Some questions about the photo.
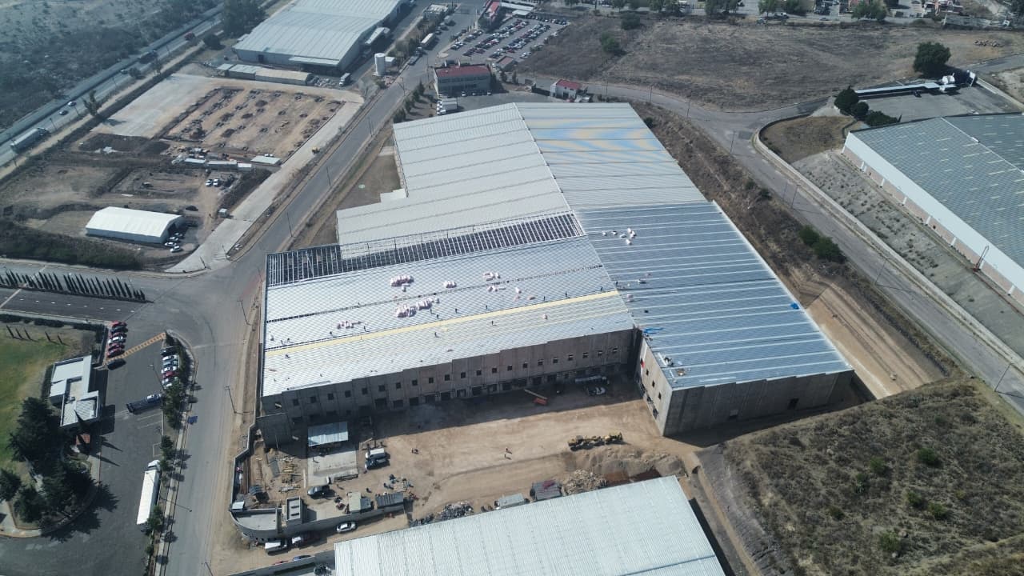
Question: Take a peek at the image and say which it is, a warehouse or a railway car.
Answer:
warehouse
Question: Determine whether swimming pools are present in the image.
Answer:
No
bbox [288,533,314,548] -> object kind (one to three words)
vehicle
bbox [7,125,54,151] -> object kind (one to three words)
truck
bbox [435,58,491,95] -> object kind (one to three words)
building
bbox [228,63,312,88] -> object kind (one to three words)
shed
